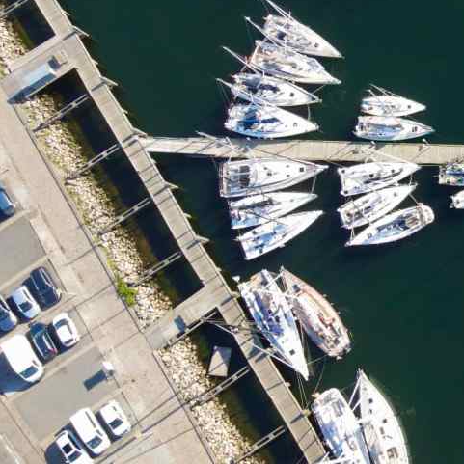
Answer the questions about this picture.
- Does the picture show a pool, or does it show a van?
van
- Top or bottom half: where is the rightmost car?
bottom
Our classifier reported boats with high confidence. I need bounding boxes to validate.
[210,137,328,196]
[233,209,323,260]
[354,99,435,143]
[450,191,464,210]
[436,160,464,188]
[212,270,308,381]
[237,13,341,86]
[222,180,319,226]
[210,76,318,139]
[337,209,436,248]
[243,270,350,355]
[303,59,328,76]
[358,84,427,118]
[339,148,422,195]
[338,177,418,228]
[312,369,414,464]
[220,46,320,110]
[259,0,343,57]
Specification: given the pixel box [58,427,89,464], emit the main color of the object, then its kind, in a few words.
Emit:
white car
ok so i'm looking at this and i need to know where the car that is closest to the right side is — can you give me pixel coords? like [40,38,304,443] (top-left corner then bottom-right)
[102,400,131,437]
